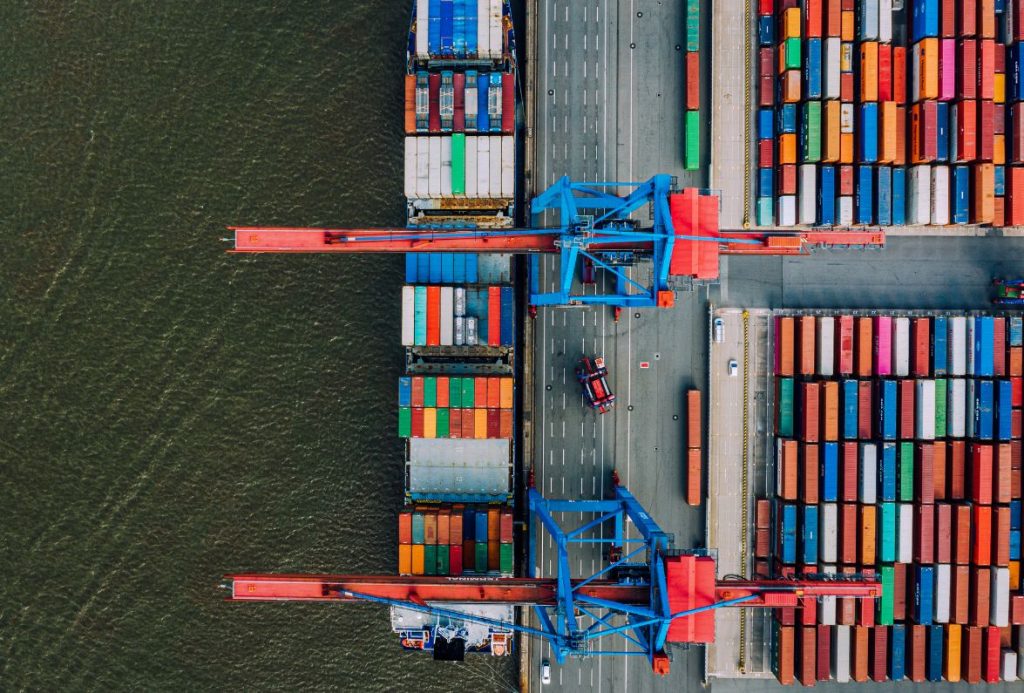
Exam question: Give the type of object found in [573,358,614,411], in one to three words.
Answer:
work vehicle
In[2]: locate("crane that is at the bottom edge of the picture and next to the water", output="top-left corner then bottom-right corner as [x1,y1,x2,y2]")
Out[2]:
[223,473,881,673]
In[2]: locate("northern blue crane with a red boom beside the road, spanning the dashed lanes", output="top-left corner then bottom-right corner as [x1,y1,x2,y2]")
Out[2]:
[220,169,888,321]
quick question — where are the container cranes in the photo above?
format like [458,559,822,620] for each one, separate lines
[223,473,881,673]
[220,169,888,321]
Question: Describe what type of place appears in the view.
port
